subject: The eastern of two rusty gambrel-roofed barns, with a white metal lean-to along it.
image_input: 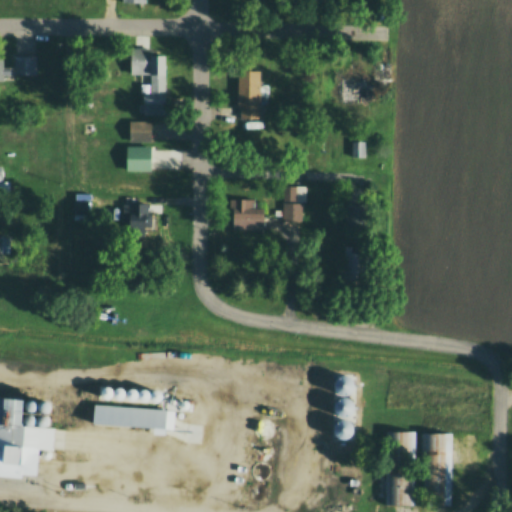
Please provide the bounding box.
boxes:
[421,433,454,509]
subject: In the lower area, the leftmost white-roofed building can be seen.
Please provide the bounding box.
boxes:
[0,399,55,478]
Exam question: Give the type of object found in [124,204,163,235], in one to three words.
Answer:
house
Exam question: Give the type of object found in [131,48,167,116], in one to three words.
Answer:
house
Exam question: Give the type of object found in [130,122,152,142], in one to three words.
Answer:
shed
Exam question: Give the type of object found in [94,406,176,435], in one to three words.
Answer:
building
